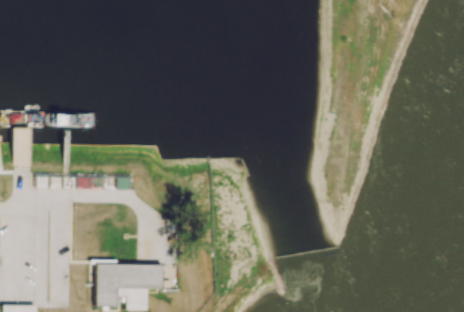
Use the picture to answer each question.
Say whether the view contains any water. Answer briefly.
Yes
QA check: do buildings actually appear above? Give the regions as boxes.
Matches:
[2,305,37,312]
[96,264,163,312]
